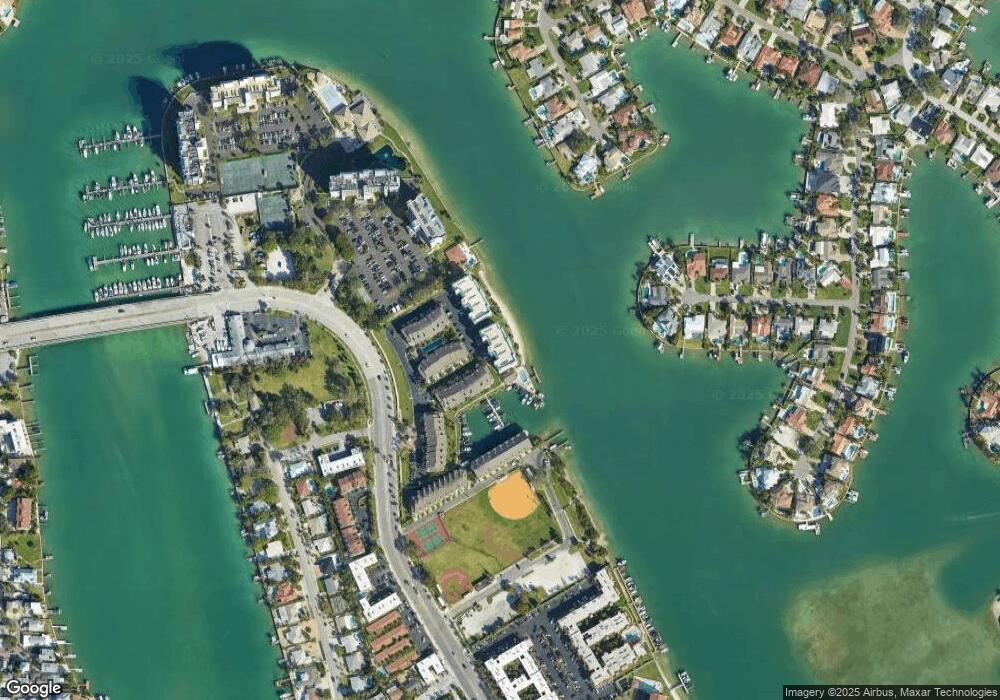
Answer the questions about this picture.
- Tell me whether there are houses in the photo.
Yes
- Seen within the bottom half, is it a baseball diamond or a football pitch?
baseball diamond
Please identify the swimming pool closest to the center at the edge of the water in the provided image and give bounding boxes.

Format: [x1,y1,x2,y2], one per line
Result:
[517,368,532,386]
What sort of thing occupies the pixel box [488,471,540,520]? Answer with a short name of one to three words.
baseball field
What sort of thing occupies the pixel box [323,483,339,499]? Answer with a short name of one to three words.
swimming pool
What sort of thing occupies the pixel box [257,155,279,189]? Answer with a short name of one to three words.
tennis court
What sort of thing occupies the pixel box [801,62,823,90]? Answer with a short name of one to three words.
house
